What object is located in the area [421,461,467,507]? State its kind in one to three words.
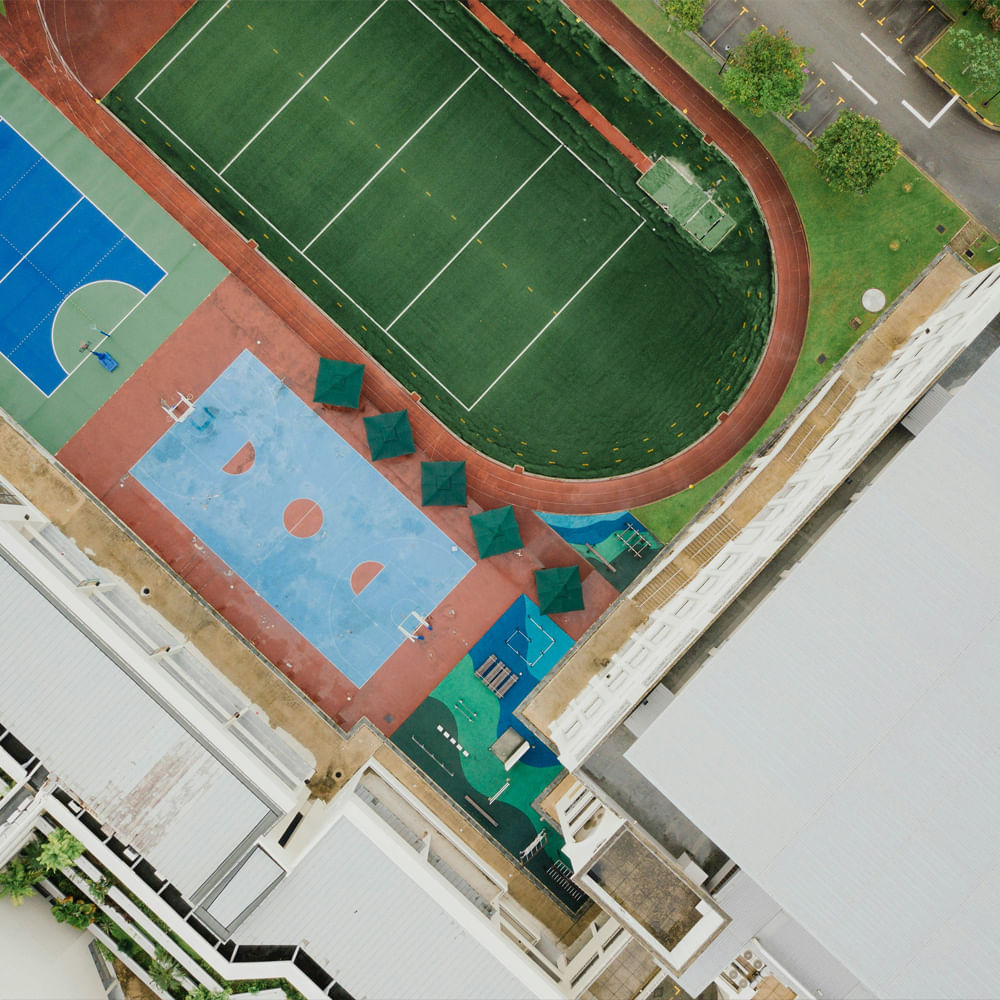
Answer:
tent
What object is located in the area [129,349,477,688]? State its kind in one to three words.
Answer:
basketball court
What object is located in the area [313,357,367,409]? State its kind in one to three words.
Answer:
tent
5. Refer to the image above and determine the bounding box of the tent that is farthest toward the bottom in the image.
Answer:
[534,565,584,615]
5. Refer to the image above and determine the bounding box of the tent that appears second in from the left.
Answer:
[363,409,416,461]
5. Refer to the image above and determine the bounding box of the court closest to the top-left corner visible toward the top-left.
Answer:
[0,57,229,456]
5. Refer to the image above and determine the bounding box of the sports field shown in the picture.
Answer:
[104,0,775,479]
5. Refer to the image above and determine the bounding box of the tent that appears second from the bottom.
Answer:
[470,505,523,559]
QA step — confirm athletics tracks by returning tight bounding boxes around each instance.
[0,0,811,516]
